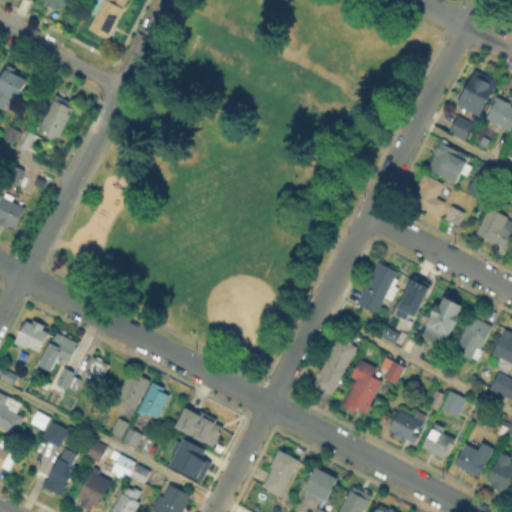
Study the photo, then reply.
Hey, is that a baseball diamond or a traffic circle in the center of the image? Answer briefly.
baseball diamond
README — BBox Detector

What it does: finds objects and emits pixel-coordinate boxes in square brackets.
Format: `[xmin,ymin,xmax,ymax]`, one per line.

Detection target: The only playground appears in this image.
[62,176,127,261]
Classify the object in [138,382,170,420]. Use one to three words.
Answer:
house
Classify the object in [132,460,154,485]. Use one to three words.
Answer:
building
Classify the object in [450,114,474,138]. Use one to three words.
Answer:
building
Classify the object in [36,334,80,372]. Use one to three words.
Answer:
house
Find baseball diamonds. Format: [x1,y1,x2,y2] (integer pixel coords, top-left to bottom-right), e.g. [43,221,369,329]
[139,224,289,360]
